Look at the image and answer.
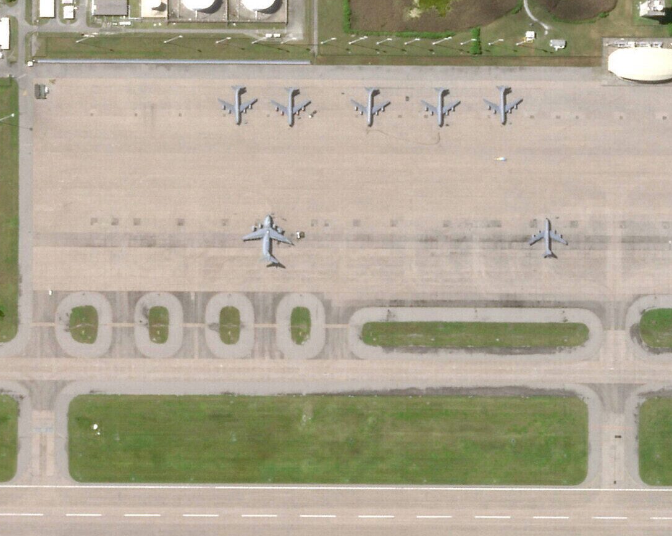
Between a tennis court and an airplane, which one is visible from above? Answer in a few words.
airplane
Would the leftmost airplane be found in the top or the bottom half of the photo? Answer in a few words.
top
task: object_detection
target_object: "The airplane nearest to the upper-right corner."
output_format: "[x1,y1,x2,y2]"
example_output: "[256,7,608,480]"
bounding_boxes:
[485,82,523,122]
